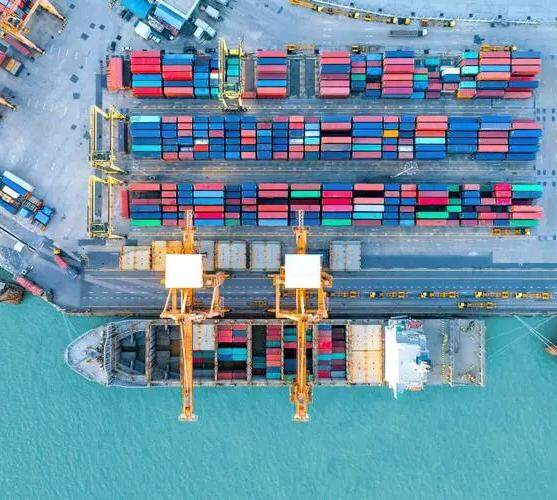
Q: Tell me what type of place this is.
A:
port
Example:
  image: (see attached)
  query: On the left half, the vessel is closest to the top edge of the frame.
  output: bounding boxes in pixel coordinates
[0,278,29,306]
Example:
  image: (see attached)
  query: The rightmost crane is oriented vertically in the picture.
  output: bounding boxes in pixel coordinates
[268,208,332,422]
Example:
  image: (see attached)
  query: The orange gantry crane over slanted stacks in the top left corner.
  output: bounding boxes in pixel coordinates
[2,0,70,54]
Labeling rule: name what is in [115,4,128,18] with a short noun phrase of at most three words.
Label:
vehicle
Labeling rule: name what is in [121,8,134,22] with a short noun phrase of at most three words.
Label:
vehicle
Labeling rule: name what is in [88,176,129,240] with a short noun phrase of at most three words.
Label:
container crane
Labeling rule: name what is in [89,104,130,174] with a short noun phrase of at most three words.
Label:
container crane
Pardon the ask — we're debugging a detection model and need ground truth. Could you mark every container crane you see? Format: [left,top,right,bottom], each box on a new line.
[219,36,249,111]
[88,176,129,240]
[155,208,230,422]
[2,0,70,54]
[268,208,332,422]
[89,104,130,174]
